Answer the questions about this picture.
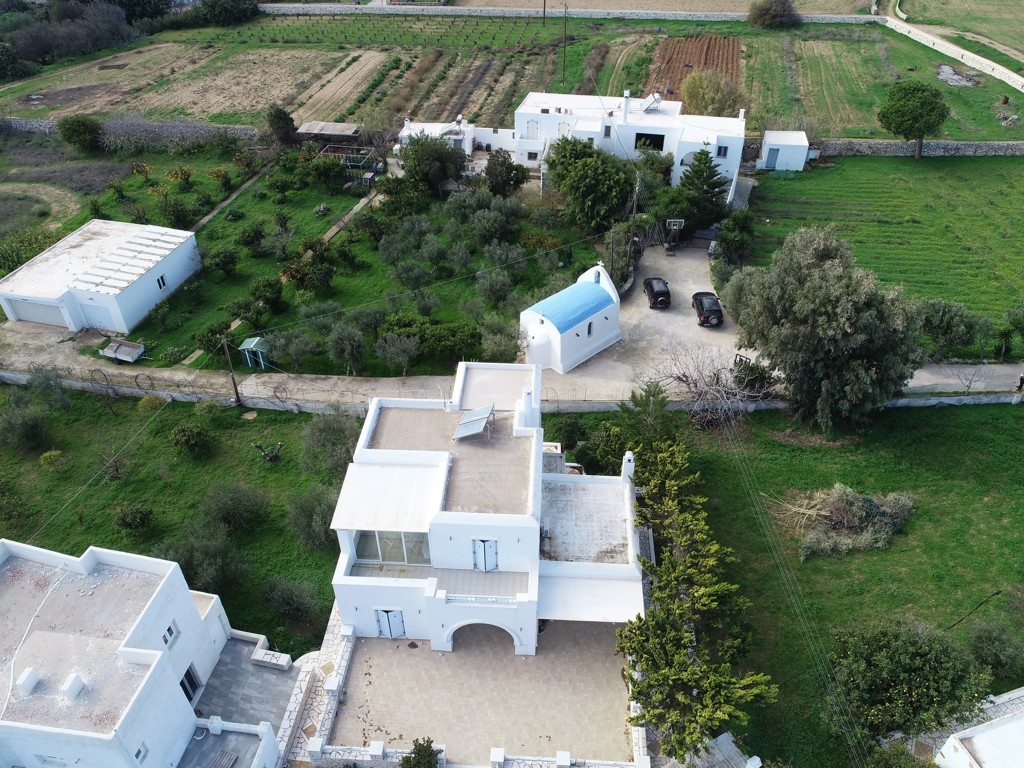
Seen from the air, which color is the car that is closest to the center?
black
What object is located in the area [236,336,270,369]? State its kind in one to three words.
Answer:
shed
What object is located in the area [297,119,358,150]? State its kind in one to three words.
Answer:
shed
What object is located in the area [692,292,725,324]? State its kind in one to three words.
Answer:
car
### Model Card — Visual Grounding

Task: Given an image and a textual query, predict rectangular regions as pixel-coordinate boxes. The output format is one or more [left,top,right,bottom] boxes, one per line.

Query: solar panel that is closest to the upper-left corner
[444,114,467,137]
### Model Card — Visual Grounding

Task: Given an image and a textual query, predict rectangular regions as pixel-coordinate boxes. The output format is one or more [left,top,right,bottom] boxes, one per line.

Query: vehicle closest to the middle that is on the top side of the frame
[642,276,673,306]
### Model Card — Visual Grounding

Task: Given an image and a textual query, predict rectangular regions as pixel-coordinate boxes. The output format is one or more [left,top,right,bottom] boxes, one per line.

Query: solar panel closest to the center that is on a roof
[452,400,496,445]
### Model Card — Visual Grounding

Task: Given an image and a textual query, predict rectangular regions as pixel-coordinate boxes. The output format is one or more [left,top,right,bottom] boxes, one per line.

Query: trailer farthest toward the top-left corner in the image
[95,340,153,366]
